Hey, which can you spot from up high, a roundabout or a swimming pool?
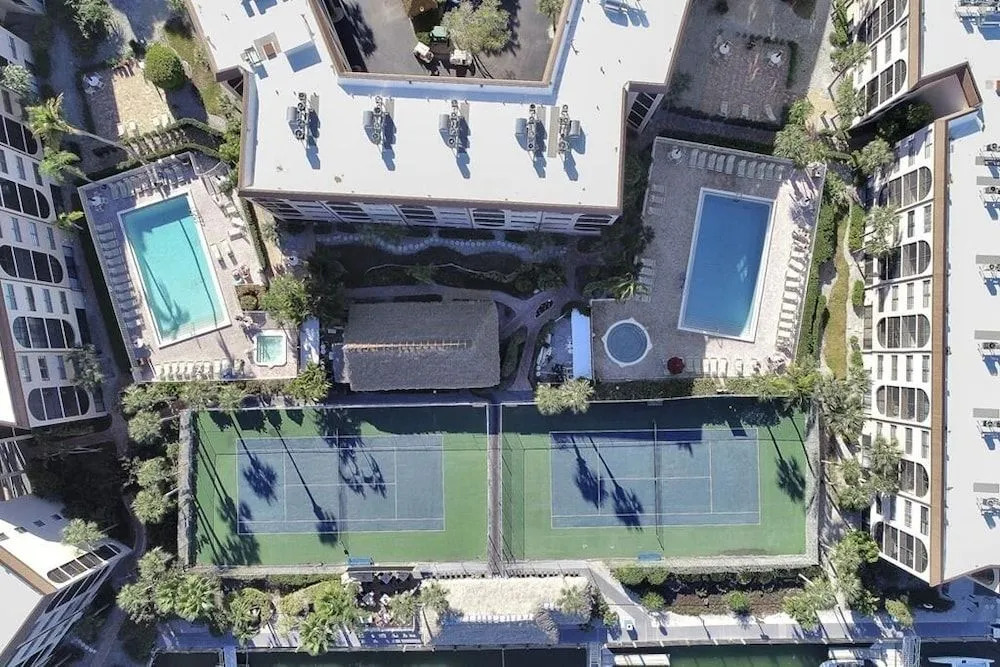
swimming pool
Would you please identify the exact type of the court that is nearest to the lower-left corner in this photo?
tennis court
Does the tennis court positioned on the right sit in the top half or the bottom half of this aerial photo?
bottom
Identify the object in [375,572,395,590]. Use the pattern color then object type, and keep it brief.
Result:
gray umbrella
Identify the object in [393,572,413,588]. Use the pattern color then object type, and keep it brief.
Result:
gray umbrella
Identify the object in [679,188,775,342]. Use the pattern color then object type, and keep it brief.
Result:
blue swimming pool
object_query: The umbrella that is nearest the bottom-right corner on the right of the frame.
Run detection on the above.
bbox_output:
[666,356,684,374]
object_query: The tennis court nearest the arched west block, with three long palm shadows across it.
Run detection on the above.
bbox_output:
[191,404,488,567]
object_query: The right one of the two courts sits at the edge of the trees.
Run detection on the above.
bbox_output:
[502,397,814,562]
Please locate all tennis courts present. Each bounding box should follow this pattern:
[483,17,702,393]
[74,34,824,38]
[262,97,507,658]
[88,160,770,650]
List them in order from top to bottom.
[502,397,814,562]
[191,404,488,567]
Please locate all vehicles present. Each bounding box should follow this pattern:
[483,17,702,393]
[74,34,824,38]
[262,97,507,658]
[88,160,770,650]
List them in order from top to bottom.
[431,26,453,44]
[415,42,438,66]
[451,52,474,68]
